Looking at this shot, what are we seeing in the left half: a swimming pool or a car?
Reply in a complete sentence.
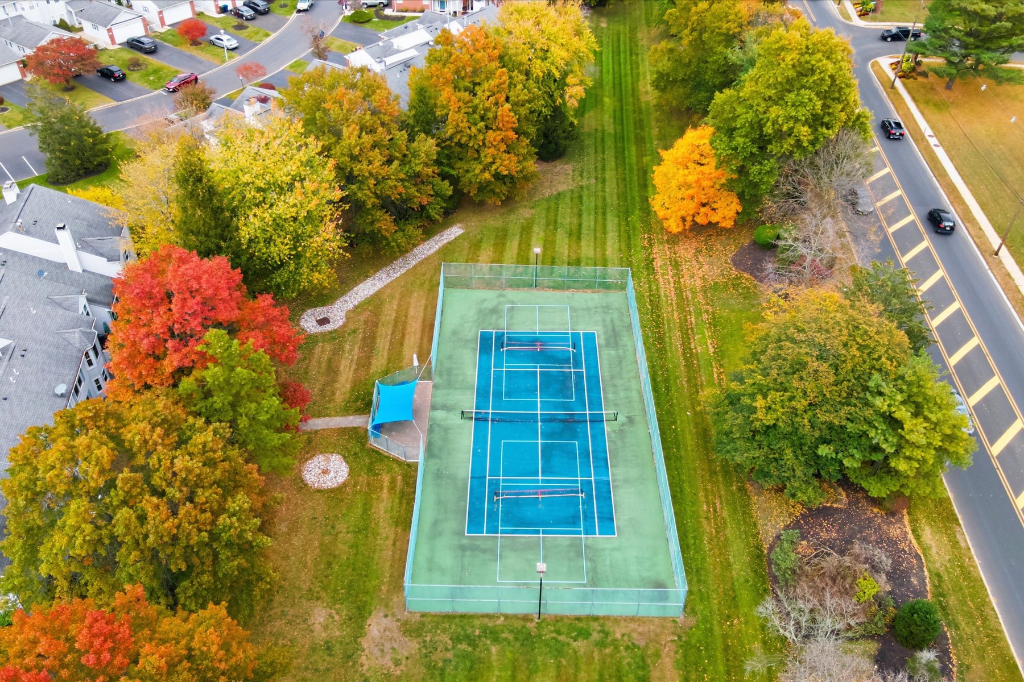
There is a car in the left half.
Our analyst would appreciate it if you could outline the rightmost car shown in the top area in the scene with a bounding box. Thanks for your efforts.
[931,209,958,234]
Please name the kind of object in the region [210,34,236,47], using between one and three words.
vehicle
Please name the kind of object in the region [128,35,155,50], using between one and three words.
car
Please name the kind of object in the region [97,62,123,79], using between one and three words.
car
